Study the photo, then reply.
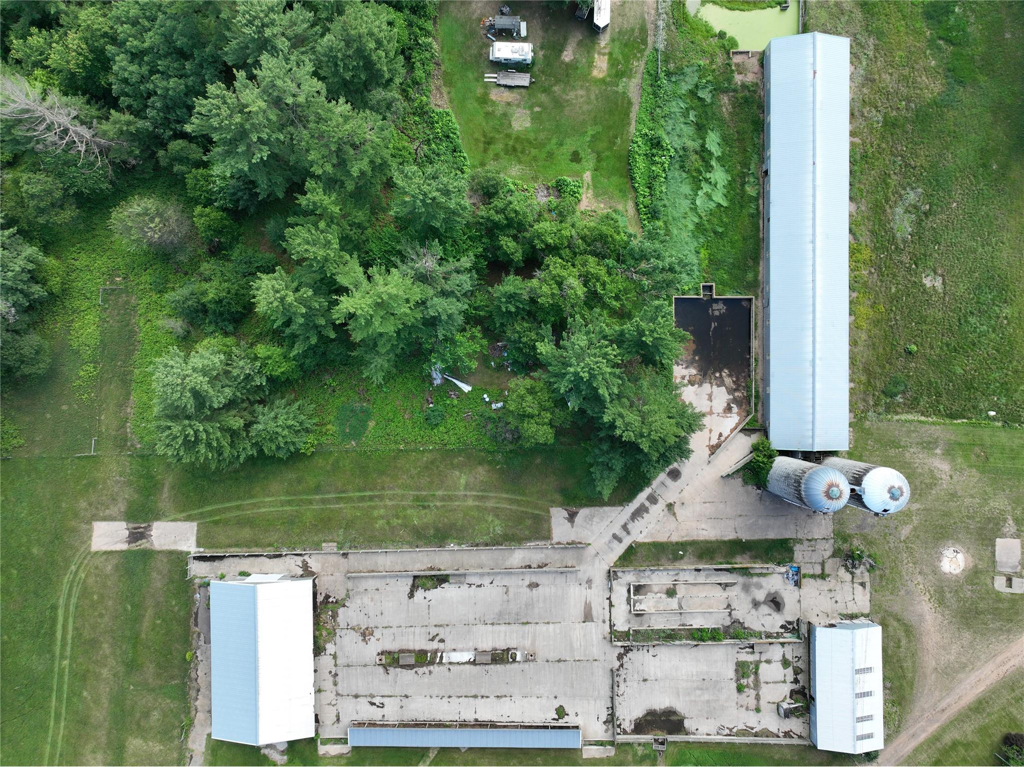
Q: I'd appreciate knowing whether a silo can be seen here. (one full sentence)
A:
Yes, you can see a silo in this photo.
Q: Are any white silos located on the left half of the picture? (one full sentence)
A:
No, no white silo appears on the left half of the picture.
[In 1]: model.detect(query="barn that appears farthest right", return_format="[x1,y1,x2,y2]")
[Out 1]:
[809,620,883,755]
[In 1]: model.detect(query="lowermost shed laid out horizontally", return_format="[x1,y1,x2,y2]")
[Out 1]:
[347,721,583,749]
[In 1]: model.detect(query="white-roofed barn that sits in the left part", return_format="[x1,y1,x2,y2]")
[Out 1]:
[210,571,320,747]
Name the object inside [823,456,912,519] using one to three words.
silo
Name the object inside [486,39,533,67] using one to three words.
trailer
